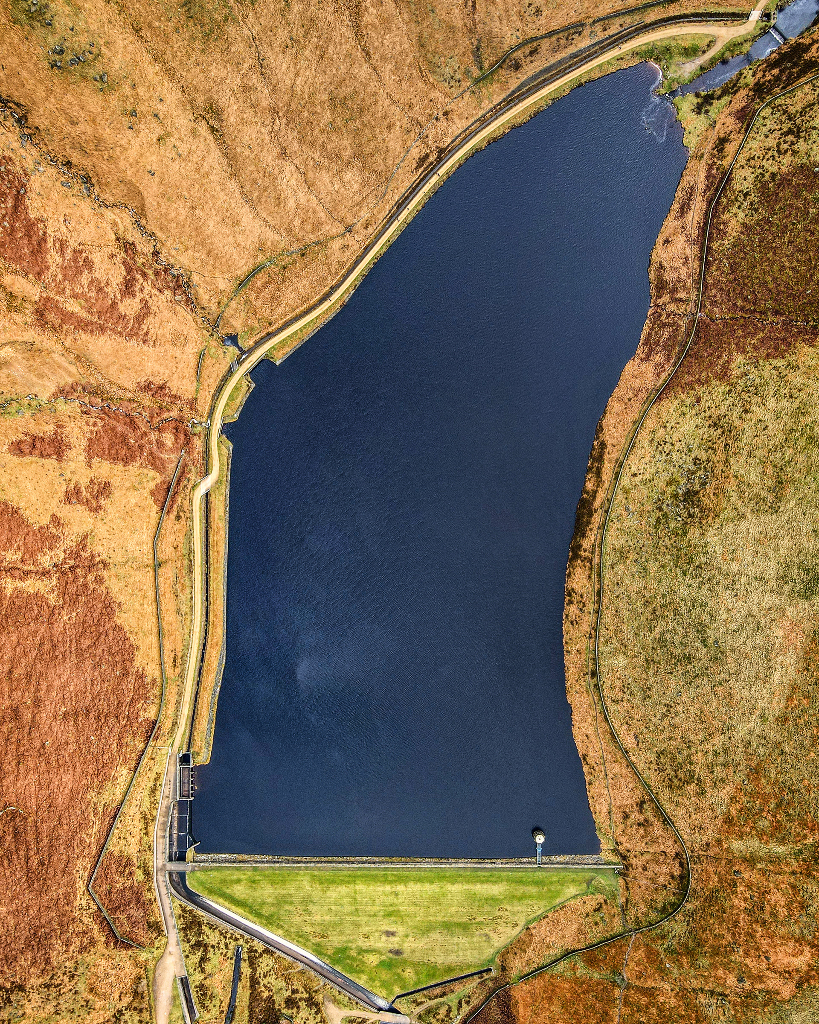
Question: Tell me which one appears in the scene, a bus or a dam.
dam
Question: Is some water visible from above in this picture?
Yes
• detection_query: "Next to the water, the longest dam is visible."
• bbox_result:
[190,853,624,1001]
